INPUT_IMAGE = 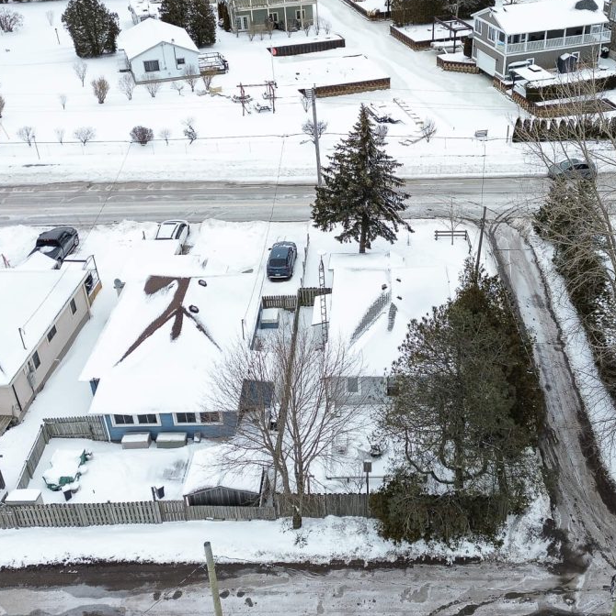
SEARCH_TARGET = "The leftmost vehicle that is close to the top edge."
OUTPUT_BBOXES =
[129,0,148,19]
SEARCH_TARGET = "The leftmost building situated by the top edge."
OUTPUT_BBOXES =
[123,18,200,82]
